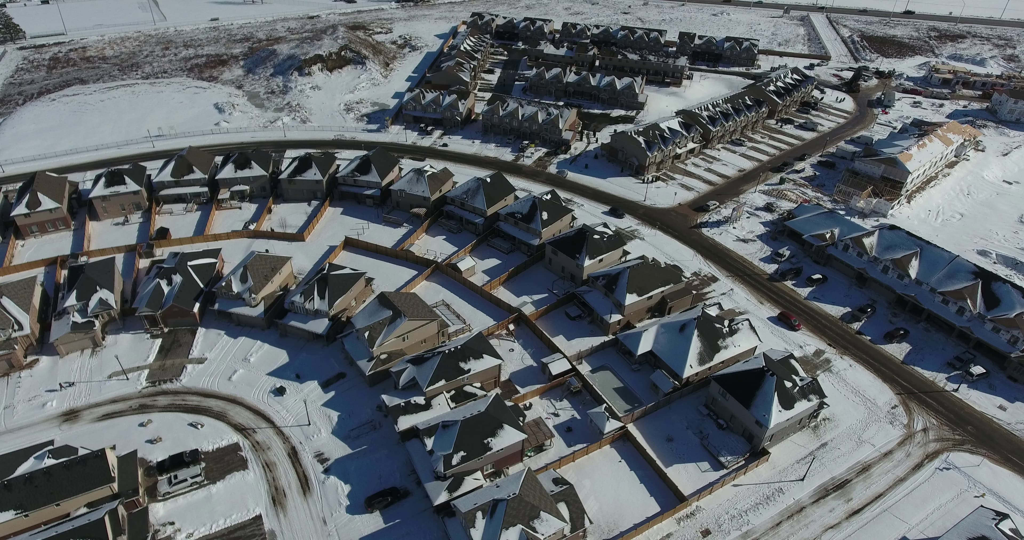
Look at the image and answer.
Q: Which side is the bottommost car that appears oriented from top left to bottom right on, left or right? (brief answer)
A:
right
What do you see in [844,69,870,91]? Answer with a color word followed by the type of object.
black truck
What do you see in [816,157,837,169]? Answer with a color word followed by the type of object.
black vehicle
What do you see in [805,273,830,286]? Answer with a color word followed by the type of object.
black vehicle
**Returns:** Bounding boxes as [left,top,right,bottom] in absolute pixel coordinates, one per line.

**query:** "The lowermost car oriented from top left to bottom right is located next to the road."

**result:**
[777,312,803,332]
